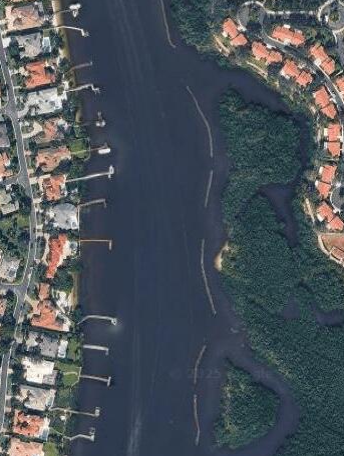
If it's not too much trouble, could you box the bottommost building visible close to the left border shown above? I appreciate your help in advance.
[9,438,40,456]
